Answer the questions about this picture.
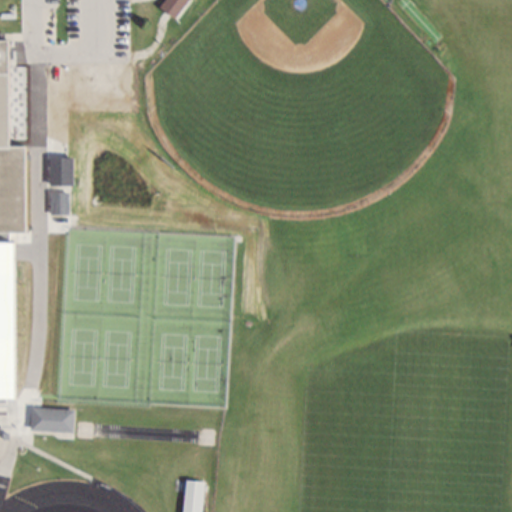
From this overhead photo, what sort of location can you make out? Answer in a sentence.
It's a sports ground.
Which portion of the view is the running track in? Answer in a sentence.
You can find the running track in the bottom left area of the picture.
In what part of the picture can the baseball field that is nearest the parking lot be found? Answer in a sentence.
Look in the top portion of the view to spot the baseball field that is nearest the parking lot.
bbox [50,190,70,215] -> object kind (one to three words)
building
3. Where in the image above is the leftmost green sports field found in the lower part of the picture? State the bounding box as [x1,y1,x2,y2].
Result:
[298,330,394,512]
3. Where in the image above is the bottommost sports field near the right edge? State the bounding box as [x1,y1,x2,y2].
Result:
[391,325,512,512]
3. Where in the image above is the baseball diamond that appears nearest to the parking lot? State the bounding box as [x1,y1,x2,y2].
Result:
[144,0,456,222]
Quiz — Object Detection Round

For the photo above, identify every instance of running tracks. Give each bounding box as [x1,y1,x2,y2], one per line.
[0,480,137,512]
